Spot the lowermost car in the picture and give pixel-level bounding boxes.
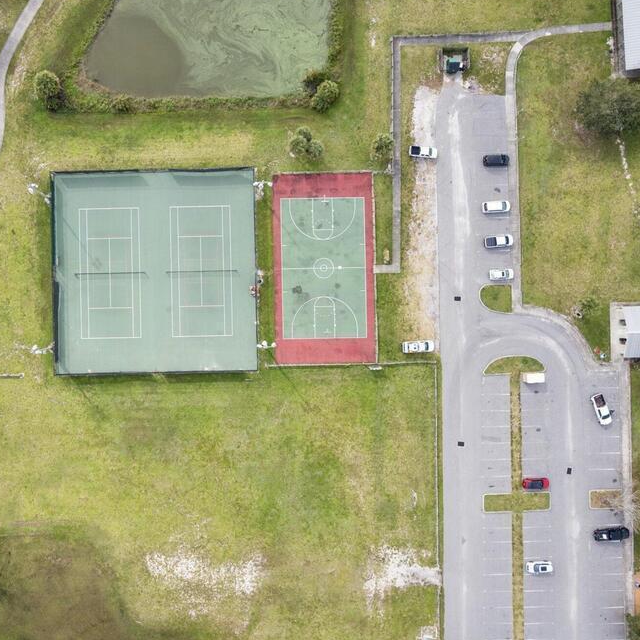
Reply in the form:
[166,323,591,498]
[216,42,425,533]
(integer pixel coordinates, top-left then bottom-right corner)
[526,562,554,575]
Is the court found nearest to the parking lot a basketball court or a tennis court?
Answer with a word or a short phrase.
basketball court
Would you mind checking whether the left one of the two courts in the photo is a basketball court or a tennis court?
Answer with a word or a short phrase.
tennis court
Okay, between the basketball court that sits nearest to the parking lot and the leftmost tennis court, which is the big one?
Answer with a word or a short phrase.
the tennis court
